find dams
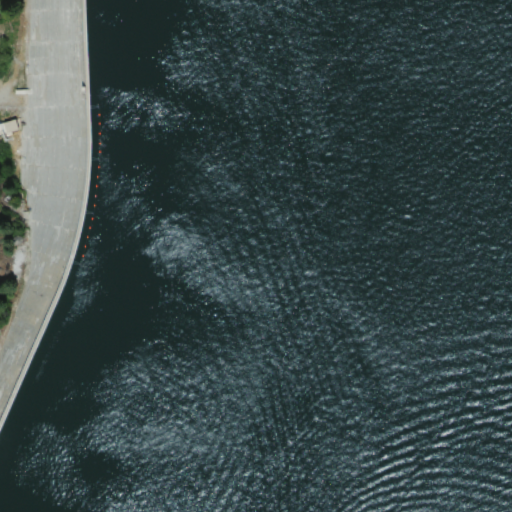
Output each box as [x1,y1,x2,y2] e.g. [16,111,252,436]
[0,0,91,433]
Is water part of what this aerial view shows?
Yes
